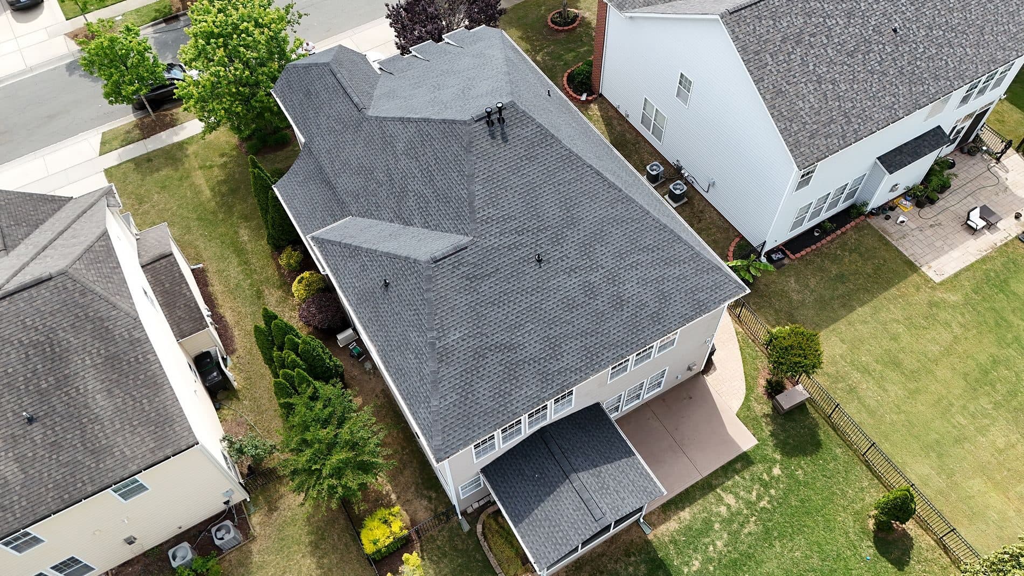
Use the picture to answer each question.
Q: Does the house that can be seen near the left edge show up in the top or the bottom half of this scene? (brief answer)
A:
bottom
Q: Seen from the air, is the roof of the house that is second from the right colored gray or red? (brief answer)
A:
gray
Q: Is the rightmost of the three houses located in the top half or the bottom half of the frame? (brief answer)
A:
top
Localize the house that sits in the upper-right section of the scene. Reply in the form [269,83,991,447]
[592,0,1024,257]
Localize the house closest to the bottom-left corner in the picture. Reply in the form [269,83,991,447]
[0,184,249,576]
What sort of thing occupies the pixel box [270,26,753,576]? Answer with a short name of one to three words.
house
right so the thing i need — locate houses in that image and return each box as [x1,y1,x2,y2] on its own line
[592,0,1024,257]
[0,184,249,576]
[270,26,753,576]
